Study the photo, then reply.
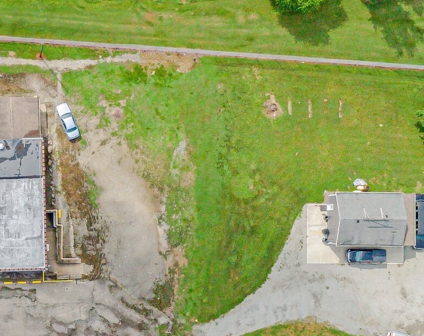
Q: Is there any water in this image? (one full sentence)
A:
No, the scene doesn't show any water.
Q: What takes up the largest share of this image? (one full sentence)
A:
What you mostly see from above here is grass.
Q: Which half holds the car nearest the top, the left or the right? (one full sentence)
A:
The car nearest the top appears in the left half of the scene.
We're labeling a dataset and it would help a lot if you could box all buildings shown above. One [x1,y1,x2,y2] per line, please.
[325,191,415,247]
[0,139,51,276]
